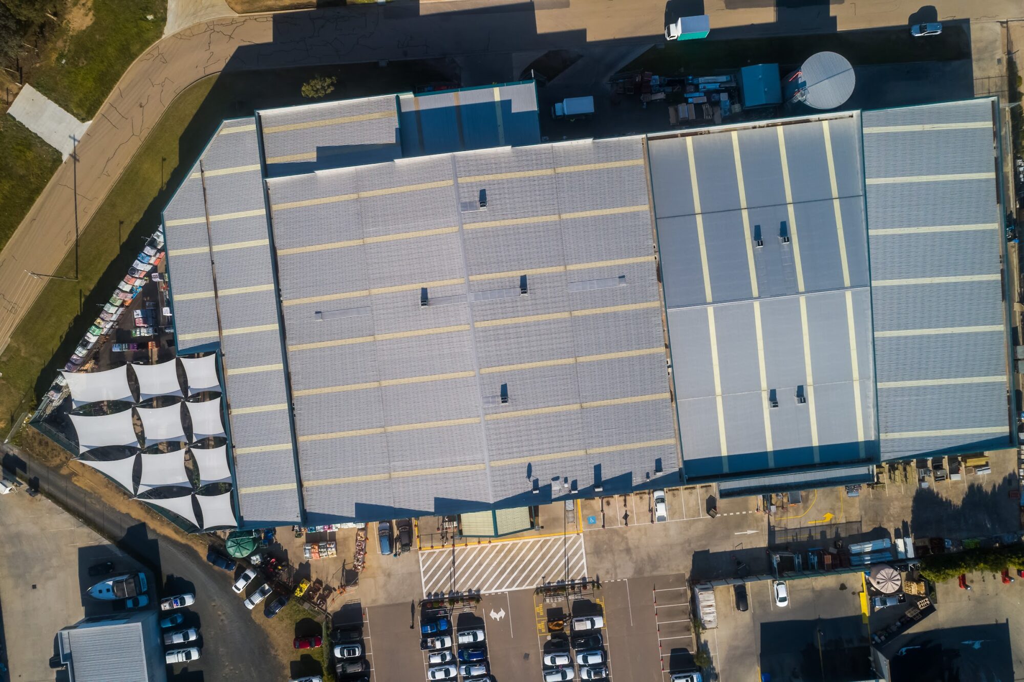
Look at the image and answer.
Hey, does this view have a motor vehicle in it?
Yes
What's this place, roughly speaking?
industrial area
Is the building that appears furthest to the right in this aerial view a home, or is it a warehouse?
warehouse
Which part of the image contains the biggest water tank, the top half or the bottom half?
top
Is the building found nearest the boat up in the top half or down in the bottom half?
bottom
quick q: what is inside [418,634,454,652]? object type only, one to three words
vehicle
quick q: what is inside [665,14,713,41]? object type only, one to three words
truck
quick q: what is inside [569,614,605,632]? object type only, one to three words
vehicle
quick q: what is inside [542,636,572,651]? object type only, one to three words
car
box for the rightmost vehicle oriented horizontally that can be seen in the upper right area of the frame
[908,21,943,39]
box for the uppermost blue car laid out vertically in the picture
[377,521,393,555]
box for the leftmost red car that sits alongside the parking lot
[291,634,325,651]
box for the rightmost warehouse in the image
[863,97,1018,463]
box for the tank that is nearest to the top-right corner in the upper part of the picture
[776,52,855,119]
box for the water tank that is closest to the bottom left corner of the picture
[228,528,262,558]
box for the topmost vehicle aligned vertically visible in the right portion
[652,489,668,523]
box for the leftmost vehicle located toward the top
[553,94,596,118]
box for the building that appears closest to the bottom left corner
[58,610,166,682]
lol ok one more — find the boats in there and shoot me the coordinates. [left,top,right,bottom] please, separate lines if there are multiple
[85,575,150,598]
